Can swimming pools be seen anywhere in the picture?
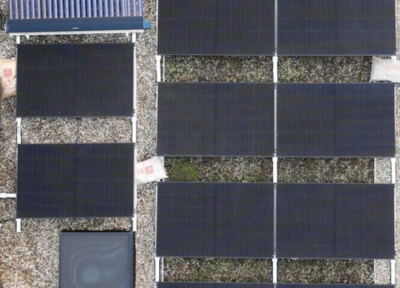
No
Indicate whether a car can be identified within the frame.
No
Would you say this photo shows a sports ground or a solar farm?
solar farm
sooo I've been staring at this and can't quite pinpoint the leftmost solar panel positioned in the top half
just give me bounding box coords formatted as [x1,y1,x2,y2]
[16,43,133,116]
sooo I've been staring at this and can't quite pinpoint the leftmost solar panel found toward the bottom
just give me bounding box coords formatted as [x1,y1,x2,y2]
[17,143,134,217]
